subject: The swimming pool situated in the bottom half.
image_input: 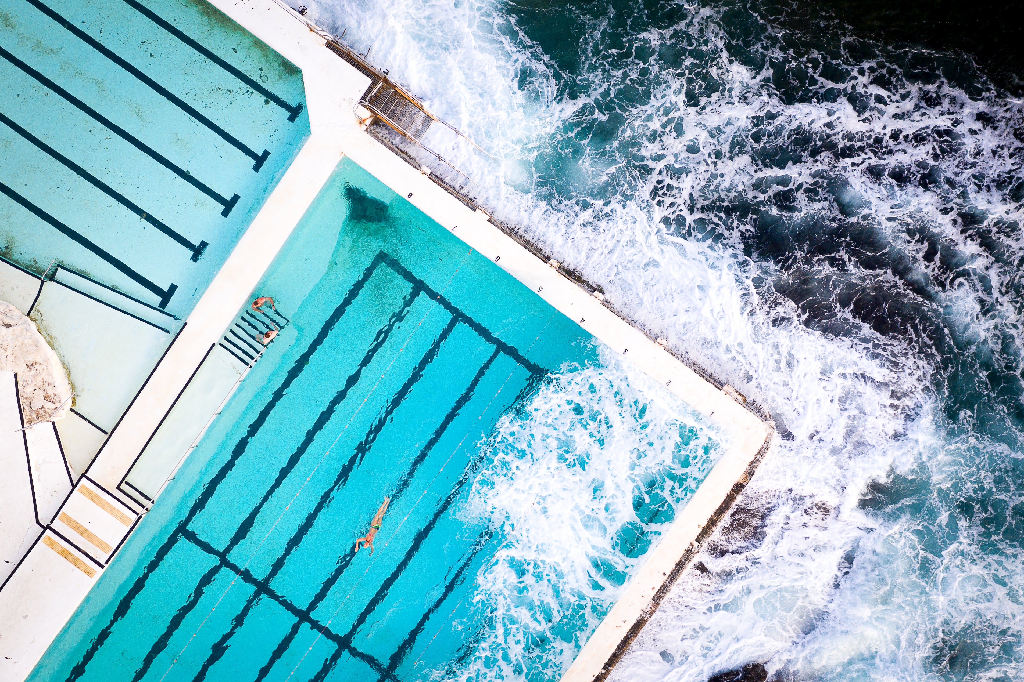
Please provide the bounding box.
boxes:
[27,159,732,682]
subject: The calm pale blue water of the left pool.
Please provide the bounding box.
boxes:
[0,0,311,433]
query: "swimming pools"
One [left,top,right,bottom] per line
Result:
[0,0,311,433]
[27,159,732,682]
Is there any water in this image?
Yes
